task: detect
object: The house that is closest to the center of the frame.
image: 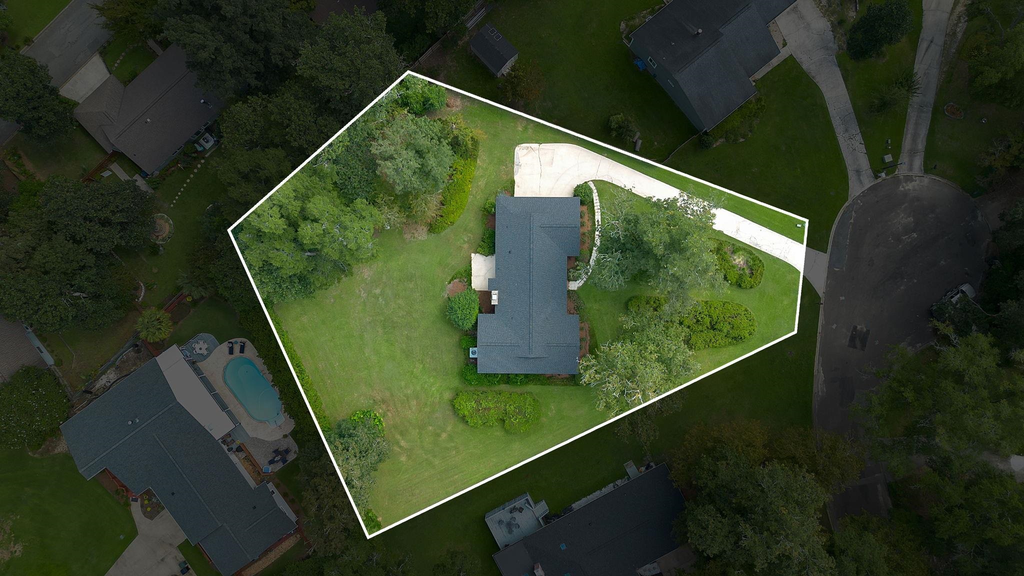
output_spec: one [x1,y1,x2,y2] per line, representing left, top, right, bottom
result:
[477,197,580,374]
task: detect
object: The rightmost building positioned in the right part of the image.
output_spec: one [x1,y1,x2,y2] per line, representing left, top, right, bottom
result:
[625,0,795,137]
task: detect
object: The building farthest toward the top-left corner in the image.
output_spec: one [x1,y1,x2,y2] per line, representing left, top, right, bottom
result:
[74,45,223,174]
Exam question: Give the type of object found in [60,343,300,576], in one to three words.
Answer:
building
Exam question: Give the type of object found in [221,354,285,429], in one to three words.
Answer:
swimming pool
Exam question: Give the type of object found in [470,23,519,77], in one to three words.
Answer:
shed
